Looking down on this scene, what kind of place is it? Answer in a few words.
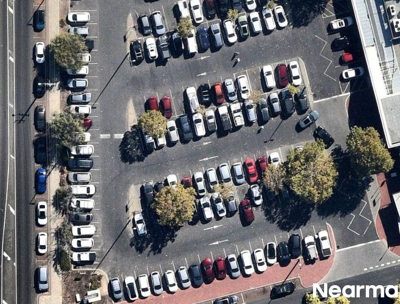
parking lot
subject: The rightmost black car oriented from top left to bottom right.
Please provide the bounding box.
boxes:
[312,125,333,146]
